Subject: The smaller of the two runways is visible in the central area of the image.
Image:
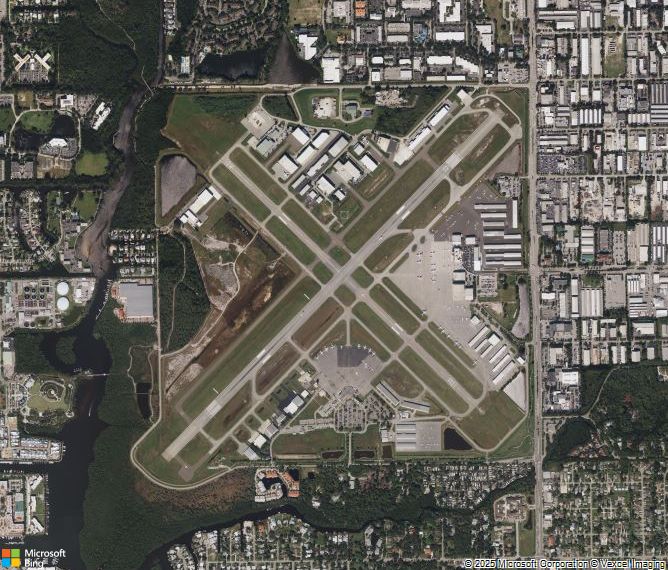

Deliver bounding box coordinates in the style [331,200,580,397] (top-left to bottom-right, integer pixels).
[219,155,478,407]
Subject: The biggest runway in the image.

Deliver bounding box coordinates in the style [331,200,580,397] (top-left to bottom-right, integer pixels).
[162,112,502,461]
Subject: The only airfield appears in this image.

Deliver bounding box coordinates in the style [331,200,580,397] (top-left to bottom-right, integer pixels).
[130,83,531,489]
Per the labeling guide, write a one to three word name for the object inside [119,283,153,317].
building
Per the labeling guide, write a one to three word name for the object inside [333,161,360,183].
hangar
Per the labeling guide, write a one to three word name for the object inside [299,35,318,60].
building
